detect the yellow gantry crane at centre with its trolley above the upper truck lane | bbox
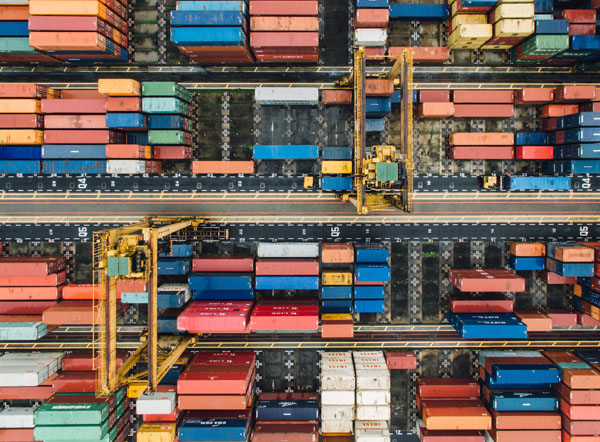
[338,46,415,213]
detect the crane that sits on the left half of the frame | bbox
[91,216,208,389]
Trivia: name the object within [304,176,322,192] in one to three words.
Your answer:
vehicle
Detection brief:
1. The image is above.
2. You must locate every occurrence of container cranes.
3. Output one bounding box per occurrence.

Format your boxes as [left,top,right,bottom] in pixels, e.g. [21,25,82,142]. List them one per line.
[338,46,415,213]
[91,216,208,389]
